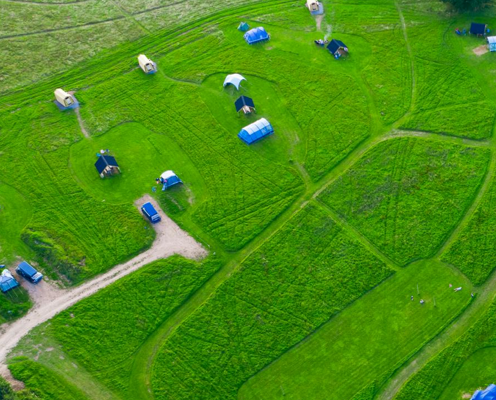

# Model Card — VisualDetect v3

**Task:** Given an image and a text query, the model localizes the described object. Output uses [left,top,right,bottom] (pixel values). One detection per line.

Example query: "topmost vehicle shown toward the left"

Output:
[141,199,162,225]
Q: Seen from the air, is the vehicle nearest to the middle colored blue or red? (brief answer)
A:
blue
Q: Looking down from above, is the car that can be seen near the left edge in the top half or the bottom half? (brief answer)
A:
bottom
